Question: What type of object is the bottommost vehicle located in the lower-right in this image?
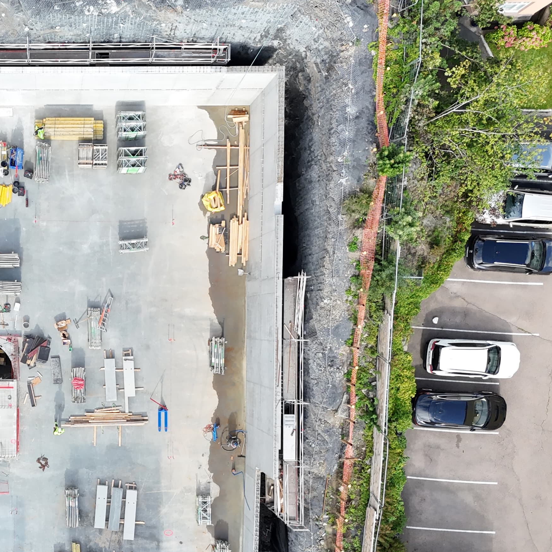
car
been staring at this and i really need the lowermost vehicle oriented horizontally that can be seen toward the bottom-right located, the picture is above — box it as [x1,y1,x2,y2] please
[406,388,506,437]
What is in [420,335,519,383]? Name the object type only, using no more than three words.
car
